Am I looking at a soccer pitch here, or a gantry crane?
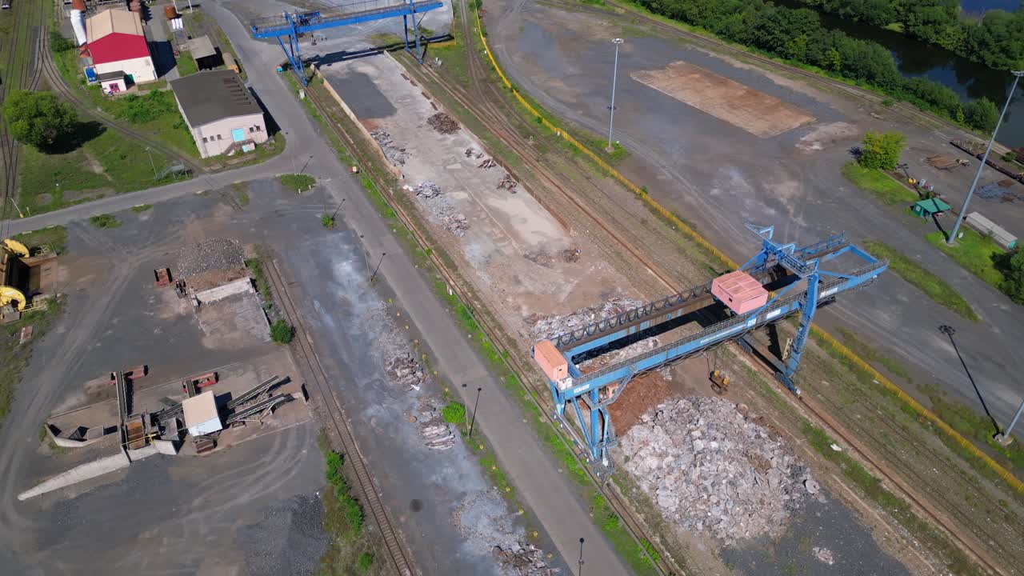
gantry crane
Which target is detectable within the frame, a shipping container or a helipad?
shipping container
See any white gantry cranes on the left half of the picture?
No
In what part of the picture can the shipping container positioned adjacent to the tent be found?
right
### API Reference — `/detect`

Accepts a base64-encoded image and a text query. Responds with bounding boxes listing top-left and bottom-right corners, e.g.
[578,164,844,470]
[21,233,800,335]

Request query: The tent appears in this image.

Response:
[909,198,951,225]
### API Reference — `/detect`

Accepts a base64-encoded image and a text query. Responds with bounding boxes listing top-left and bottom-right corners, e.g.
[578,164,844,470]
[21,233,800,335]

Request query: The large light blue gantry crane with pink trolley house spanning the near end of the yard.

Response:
[527,211,890,485]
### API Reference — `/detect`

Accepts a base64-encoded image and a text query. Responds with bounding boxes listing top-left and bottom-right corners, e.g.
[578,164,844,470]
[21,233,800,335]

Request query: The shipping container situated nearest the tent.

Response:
[962,208,1019,247]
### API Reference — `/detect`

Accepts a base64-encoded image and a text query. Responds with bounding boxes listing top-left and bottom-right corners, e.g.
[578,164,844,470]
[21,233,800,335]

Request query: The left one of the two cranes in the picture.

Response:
[251,0,445,90]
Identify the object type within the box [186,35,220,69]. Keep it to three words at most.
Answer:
shed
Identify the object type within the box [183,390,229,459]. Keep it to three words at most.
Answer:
shed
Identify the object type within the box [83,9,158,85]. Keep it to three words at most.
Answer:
building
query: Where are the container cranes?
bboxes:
[527,211,890,485]
[251,0,445,90]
